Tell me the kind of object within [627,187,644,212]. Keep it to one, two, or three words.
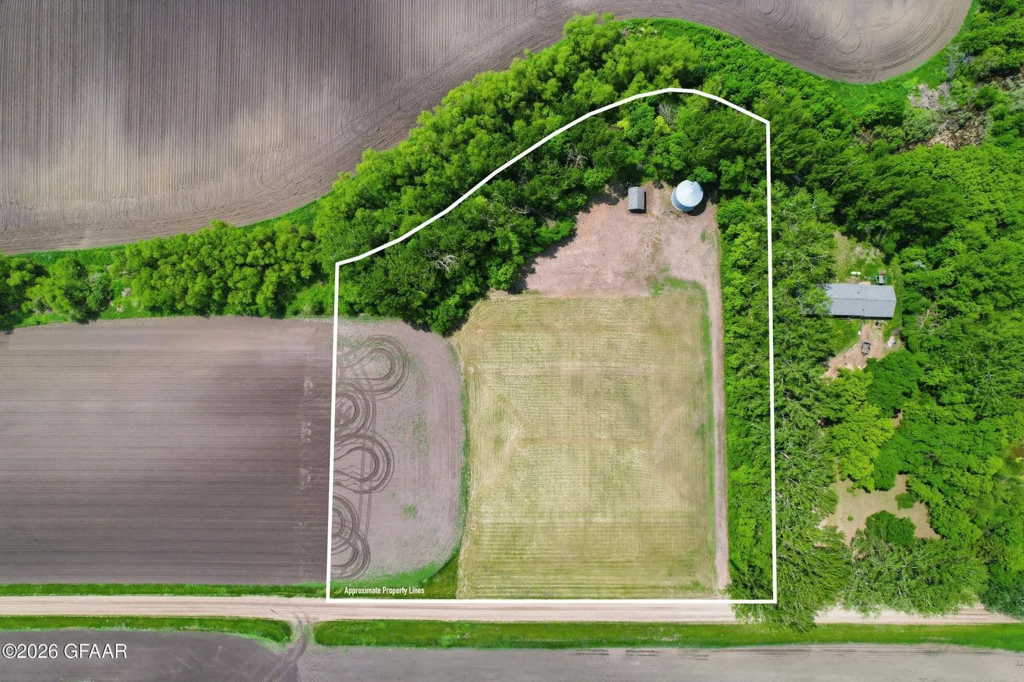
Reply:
shed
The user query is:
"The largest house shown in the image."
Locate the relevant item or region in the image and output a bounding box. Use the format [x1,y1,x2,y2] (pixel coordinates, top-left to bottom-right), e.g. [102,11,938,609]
[819,281,896,323]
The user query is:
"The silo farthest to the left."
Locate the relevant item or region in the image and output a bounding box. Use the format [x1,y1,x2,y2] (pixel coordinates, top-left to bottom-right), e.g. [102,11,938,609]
[671,180,704,212]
